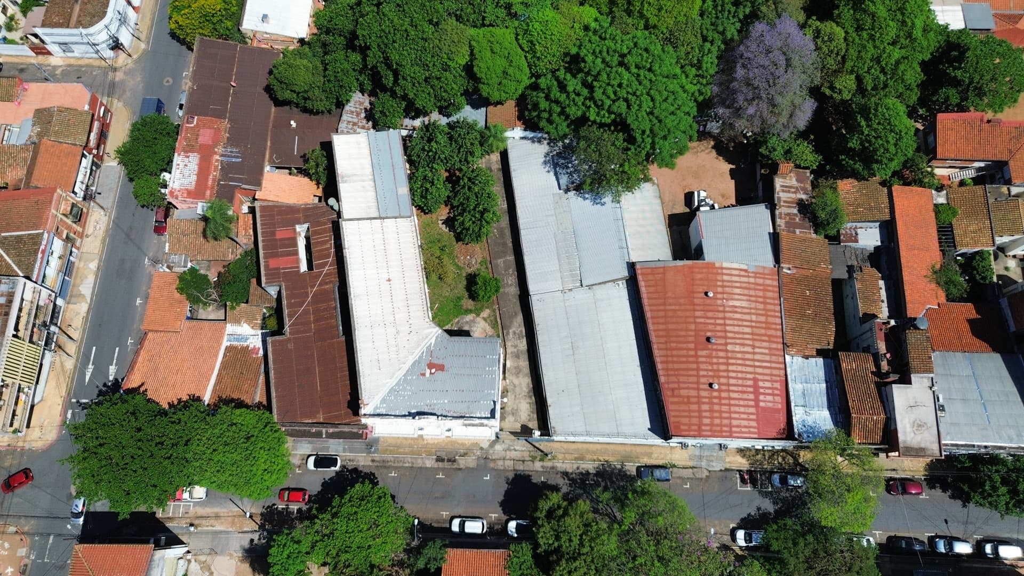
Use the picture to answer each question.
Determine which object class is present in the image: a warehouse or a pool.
warehouse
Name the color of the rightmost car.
white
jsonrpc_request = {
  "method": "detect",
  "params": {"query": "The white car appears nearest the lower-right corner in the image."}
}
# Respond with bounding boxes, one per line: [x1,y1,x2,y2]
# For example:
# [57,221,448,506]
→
[982,539,1024,559]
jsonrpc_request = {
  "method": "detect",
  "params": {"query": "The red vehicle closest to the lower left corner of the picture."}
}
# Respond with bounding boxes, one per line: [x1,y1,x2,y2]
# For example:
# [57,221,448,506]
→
[0,466,37,495]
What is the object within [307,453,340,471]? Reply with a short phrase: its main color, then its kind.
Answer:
black car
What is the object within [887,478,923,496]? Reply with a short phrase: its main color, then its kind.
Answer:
red car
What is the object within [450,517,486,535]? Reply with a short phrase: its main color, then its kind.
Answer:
white car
